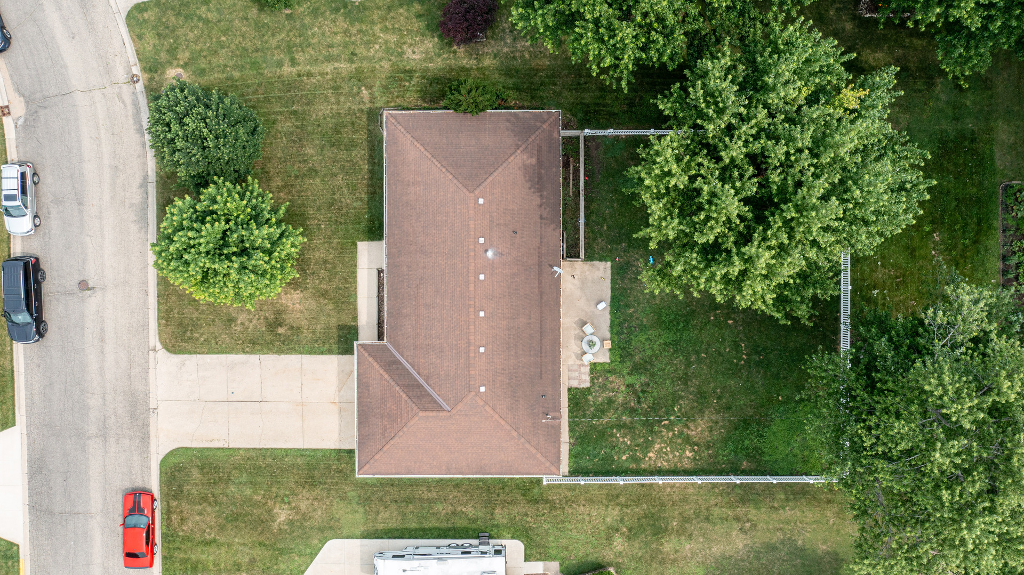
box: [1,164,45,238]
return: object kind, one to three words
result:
car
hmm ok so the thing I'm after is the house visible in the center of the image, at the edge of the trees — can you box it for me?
[356,111,562,475]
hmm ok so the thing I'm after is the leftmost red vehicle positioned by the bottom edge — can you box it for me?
[118,489,159,569]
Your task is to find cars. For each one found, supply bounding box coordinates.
[1,164,45,238]
[118,489,159,569]
[0,9,12,53]
[2,255,50,344]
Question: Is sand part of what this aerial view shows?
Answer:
No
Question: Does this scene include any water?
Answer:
No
